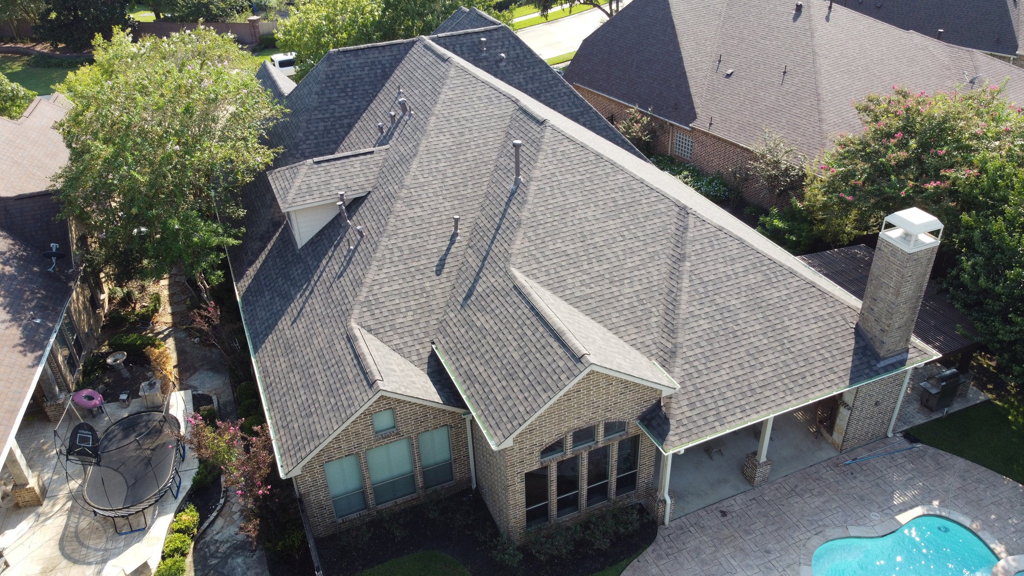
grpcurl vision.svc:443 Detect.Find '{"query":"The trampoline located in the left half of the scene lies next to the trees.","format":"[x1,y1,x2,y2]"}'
[55,375,188,534]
